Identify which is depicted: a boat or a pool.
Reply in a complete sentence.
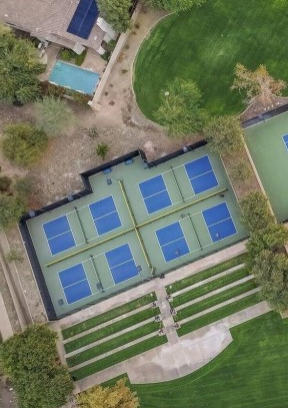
Of the two, only a pool appears.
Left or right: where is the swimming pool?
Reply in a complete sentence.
The swimming pool is on the left side of the image.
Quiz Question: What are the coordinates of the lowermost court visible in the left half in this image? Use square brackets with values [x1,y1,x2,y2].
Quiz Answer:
[41,230,154,317]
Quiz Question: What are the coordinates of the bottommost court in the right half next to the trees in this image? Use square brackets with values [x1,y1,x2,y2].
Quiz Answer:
[136,187,249,276]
